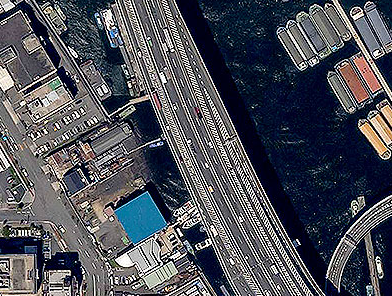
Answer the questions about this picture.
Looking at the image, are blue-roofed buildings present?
Yes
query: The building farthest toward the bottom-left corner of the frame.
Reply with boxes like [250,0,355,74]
[0,255,38,293]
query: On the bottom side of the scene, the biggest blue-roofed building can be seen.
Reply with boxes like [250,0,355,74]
[115,191,169,244]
